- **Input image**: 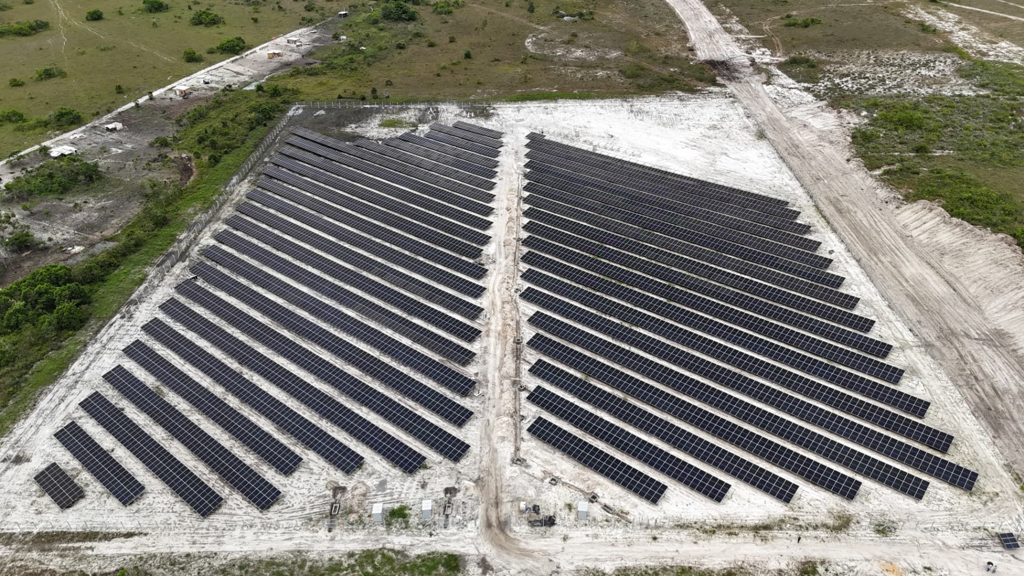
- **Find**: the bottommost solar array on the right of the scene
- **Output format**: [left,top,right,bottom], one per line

[999,532,1020,550]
